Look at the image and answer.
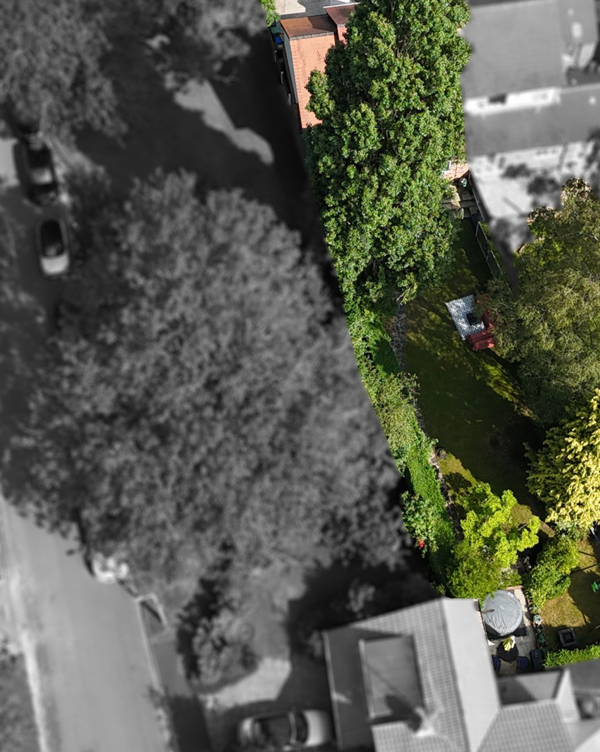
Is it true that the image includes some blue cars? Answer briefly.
No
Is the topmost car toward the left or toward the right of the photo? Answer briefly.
left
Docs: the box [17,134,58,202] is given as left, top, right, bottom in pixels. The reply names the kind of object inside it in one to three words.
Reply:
car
